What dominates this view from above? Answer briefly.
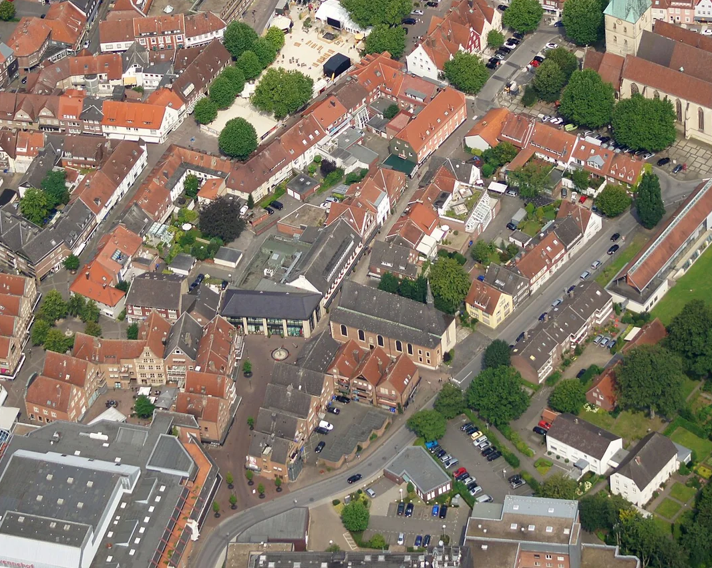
buildings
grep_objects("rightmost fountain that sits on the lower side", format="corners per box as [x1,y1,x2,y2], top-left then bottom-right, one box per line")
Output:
[270,348,289,361]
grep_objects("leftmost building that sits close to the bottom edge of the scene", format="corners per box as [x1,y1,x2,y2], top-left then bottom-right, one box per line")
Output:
[0,409,222,568]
